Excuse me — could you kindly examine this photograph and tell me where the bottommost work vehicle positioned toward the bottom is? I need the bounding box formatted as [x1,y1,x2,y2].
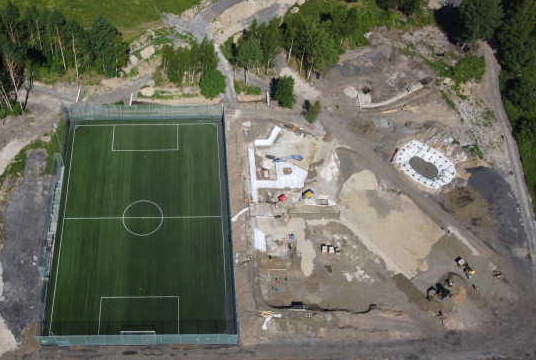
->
[428,285,453,299]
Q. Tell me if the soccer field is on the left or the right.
left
